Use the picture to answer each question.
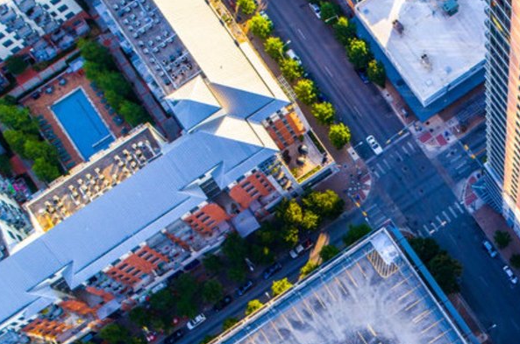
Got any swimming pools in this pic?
Yes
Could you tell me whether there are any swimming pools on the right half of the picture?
No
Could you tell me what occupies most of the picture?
buildings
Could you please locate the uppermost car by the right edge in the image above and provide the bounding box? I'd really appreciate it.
[481,239,498,260]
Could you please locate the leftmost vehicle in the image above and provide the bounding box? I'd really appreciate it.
[163,329,185,344]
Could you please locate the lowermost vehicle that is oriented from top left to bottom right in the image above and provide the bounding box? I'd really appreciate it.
[501,265,519,286]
